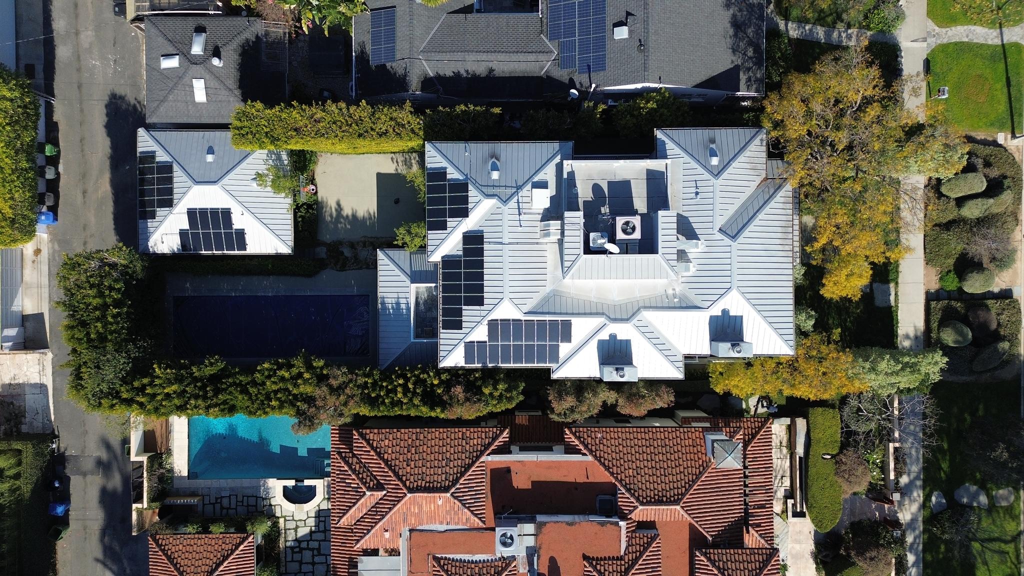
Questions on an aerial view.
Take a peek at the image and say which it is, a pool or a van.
pool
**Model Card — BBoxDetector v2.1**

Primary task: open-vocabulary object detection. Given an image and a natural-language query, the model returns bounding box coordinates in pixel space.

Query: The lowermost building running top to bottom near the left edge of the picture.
[0,245,49,357]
